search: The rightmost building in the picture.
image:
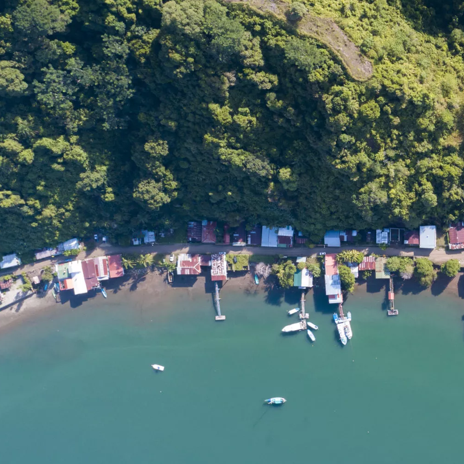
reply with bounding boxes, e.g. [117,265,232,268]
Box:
[449,222,464,249]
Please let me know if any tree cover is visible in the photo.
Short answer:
Yes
